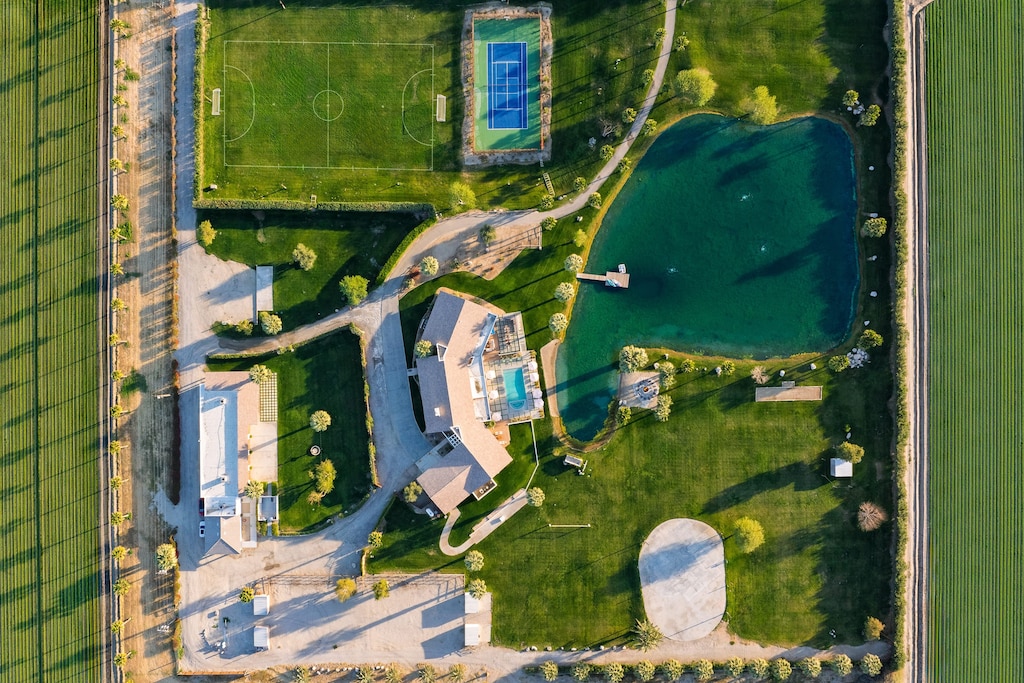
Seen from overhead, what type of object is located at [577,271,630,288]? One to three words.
pier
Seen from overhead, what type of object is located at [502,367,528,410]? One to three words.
swimming pool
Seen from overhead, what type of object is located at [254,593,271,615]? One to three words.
shed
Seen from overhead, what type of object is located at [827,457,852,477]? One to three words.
building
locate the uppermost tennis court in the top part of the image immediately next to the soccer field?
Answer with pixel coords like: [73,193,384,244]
[474,15,542,151]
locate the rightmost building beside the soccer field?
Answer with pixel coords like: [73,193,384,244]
[408,292,513,515]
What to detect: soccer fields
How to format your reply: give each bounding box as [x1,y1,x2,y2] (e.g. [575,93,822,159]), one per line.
[205,3,460,202]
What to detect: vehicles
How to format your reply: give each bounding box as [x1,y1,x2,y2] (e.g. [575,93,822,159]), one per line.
[199,521,205,537]
[197,498,204,516]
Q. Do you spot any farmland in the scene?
Yes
